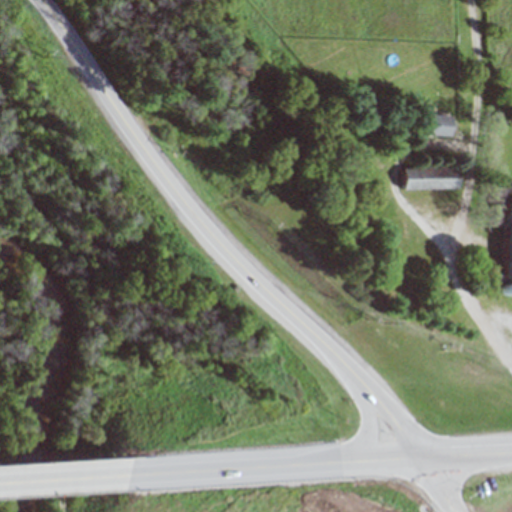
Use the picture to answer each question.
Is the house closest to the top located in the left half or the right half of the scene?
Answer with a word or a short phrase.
right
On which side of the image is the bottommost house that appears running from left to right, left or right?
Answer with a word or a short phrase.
right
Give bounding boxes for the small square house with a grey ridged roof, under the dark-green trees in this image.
[434,112,458,138]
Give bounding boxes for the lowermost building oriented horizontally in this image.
[406,166,464,190]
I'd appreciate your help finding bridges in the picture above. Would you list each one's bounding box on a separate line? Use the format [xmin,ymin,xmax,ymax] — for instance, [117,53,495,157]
[0,458,134,498]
